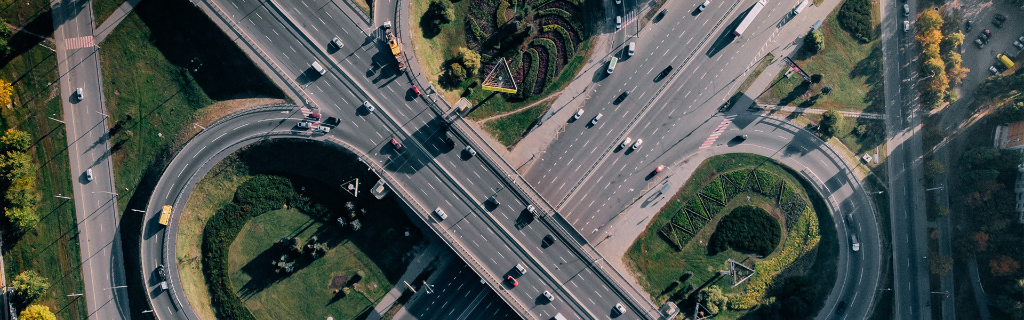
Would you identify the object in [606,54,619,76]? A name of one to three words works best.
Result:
vehicle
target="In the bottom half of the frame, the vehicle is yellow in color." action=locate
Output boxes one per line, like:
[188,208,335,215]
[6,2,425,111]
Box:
[158,205,170,226]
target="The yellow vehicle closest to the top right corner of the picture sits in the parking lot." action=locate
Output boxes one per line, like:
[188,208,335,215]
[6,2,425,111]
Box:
[996,51,1015,68]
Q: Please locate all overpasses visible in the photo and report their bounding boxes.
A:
[192,0,666,320]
